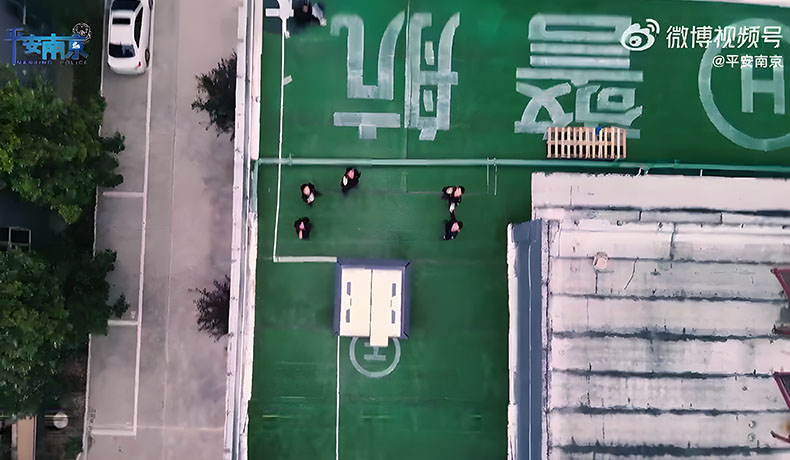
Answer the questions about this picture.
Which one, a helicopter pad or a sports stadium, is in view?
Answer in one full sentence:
It is a helicopter pad that can be seen here.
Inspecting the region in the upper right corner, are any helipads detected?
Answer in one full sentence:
Yes, the scene does show a helipad in the upper right corner.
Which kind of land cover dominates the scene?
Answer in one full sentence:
The largest share of the image is taken up by buildings.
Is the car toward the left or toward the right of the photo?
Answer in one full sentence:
The car is on the left side of the image.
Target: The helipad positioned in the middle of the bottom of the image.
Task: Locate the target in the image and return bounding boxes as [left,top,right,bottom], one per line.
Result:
[349,337,400,377]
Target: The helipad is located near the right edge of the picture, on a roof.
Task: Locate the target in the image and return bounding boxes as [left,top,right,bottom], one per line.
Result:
[700,19,790,149]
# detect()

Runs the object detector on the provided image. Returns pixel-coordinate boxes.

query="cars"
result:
[102,0,153,76]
